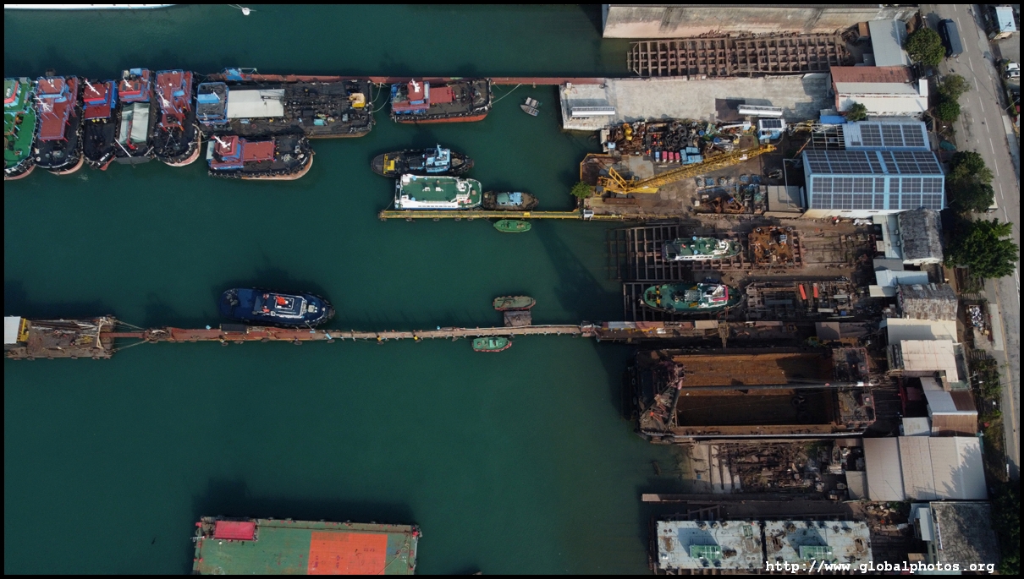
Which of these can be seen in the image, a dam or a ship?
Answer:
ship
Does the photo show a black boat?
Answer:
Yes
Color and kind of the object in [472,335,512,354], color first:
green boat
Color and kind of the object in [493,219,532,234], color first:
green boat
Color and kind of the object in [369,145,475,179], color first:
black boat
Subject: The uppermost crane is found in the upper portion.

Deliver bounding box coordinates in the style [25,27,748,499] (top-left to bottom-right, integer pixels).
[596,144,781,198]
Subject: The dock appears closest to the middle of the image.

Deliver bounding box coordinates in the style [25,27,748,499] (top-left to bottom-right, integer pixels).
[504,311,531,327]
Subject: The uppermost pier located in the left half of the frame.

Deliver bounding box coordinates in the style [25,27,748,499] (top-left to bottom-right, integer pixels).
[200,71,604,89]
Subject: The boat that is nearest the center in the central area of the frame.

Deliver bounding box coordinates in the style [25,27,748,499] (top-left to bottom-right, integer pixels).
[492,292,536,311]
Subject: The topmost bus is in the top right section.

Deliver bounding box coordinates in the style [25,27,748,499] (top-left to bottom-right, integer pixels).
[941,21,963,59]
